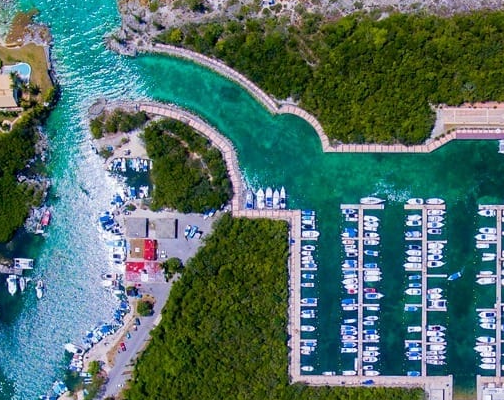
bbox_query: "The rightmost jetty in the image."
[476,204,504,377]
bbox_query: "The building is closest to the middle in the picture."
[155,218,177,238]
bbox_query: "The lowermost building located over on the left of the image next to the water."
[126,262,163,282]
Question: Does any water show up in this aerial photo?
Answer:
Yes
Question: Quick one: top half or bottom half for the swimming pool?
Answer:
top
